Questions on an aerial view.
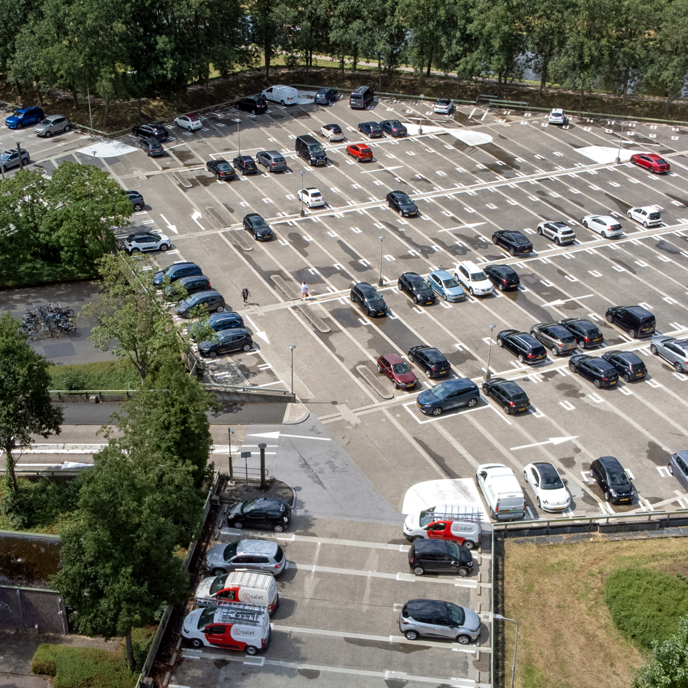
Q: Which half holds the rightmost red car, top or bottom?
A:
top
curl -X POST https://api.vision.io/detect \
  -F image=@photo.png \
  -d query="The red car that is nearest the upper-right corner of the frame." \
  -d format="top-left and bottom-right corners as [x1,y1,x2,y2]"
[630,152,672,174]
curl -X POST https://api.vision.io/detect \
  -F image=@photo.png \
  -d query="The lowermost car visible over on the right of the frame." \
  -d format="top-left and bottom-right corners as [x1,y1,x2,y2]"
[397,598,478,645]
